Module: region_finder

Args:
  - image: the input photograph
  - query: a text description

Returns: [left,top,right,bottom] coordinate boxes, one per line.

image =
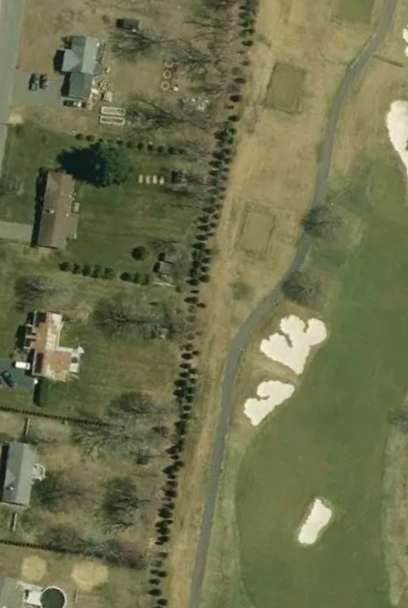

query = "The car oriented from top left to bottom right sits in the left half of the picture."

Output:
[2,369,15,385]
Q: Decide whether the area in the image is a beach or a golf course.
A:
golf course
